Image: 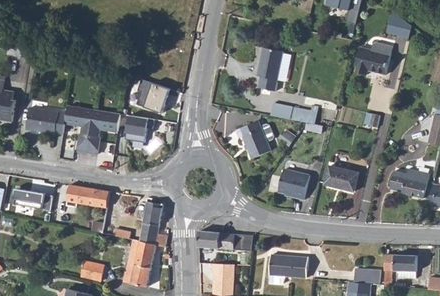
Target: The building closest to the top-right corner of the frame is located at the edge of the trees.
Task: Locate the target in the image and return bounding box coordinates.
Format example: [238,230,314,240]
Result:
[386,12,412,39]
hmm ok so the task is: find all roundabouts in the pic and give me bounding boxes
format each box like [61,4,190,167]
[167,150,236,216]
